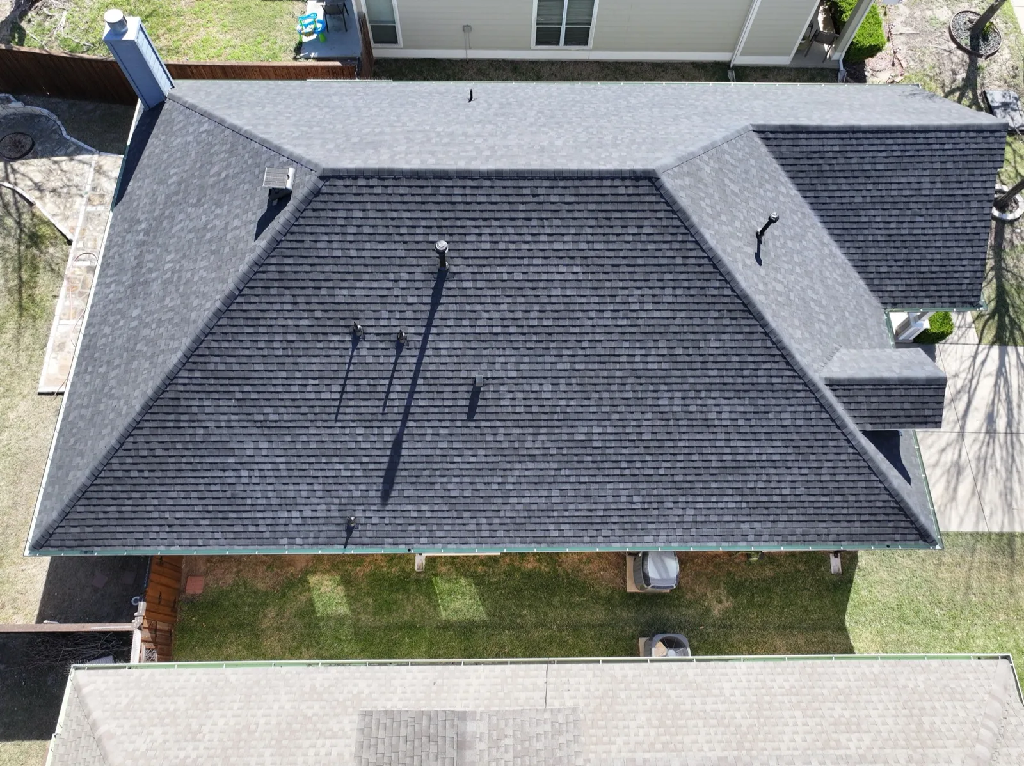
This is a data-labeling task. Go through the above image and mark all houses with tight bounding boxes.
[345,0,877,72]
[44,653,1024,766]
[26,13,1008,558]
